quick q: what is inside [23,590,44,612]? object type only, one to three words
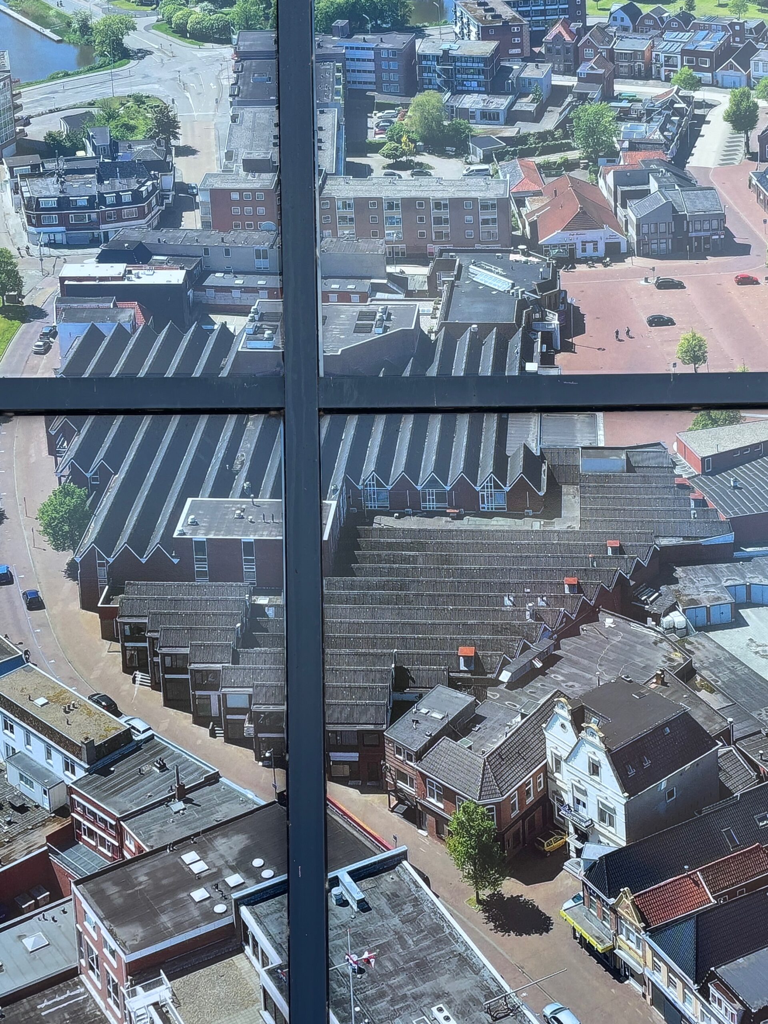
car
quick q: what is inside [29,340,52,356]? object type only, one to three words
car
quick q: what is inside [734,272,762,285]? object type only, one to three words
vehicle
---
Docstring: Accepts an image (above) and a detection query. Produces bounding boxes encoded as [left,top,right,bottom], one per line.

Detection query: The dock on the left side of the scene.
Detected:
[0,3,63,44]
